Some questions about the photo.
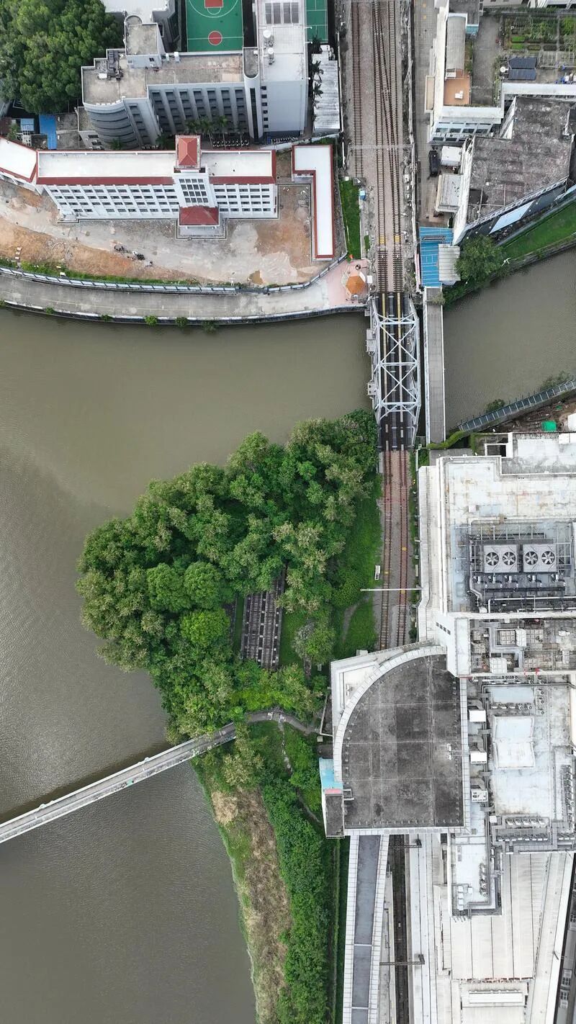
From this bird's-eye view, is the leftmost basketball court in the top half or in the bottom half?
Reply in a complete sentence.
The top half of the photo is where the leftmost basketball court is.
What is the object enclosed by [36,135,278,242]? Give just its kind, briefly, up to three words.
building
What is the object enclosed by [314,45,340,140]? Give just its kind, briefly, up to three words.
shed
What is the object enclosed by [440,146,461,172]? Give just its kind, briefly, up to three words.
shed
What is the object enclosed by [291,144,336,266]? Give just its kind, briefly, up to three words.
building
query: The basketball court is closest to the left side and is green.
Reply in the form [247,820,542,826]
[186,0,243,52]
